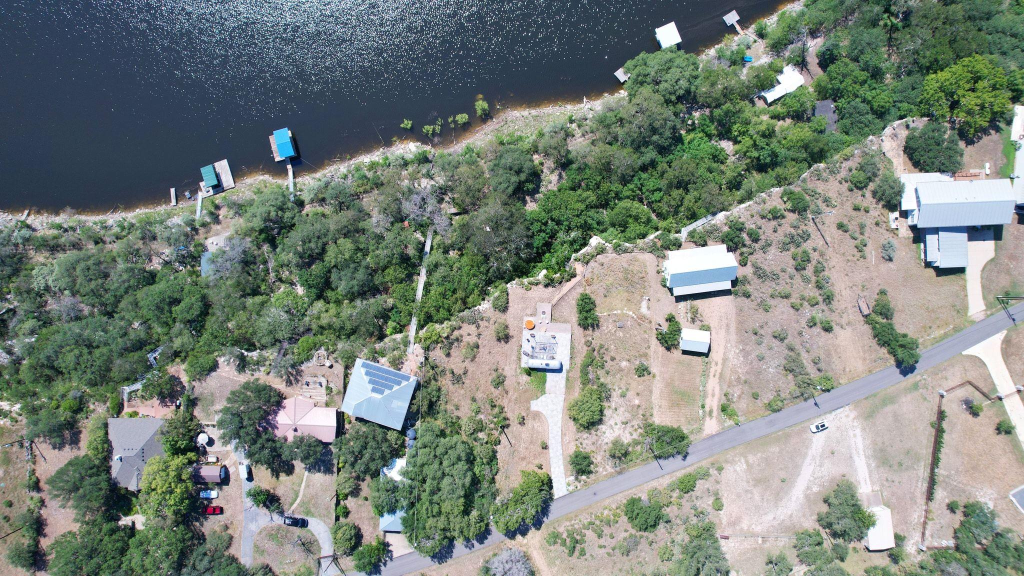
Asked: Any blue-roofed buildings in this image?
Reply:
Yes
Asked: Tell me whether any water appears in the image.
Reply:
Yes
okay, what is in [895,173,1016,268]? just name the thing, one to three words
house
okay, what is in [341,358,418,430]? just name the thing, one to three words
house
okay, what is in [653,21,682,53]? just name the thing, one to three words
building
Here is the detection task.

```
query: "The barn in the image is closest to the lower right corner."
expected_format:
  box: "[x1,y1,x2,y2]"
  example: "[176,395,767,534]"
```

[857,504,895,551]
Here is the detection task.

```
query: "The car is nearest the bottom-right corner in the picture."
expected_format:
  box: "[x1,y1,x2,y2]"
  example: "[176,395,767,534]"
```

[811,421,830,434]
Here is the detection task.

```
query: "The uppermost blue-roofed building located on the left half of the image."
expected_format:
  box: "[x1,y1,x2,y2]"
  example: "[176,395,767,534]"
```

[268,128,298,162]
